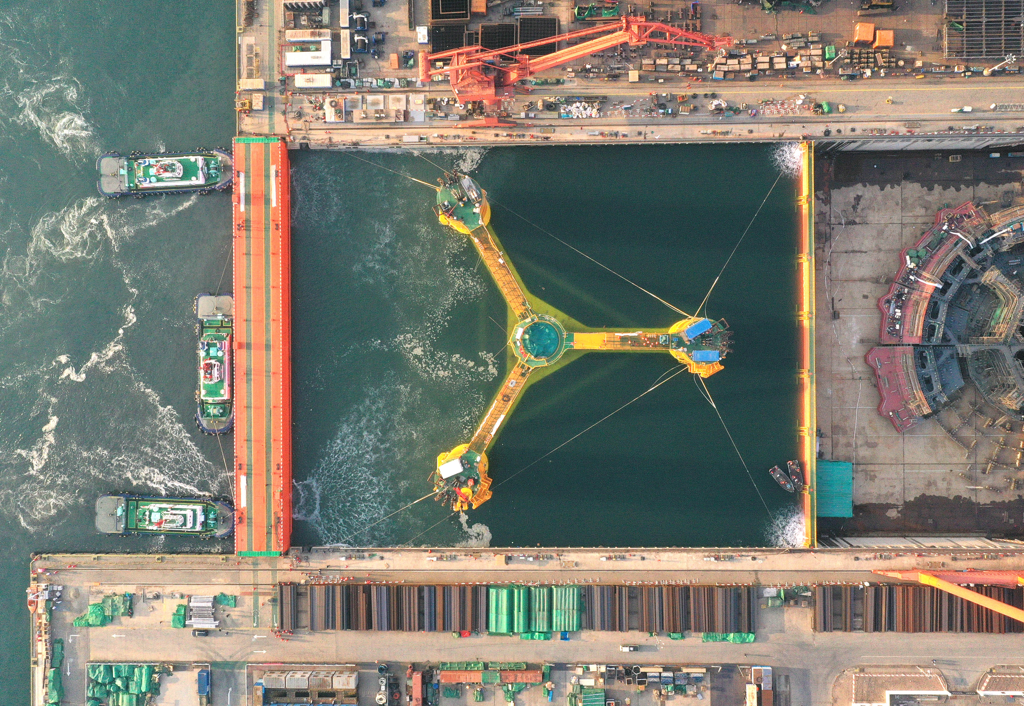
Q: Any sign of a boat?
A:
Yes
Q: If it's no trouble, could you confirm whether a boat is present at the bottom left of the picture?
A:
Yes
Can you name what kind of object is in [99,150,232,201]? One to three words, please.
boat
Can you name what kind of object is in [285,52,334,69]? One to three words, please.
building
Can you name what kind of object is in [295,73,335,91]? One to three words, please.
building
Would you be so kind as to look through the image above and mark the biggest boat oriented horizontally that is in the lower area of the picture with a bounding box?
[101,491,234,540]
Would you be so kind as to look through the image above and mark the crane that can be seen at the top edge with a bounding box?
[419,14,735,129]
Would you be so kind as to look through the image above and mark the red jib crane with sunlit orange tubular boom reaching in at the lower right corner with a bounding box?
[872,567,1024,624]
